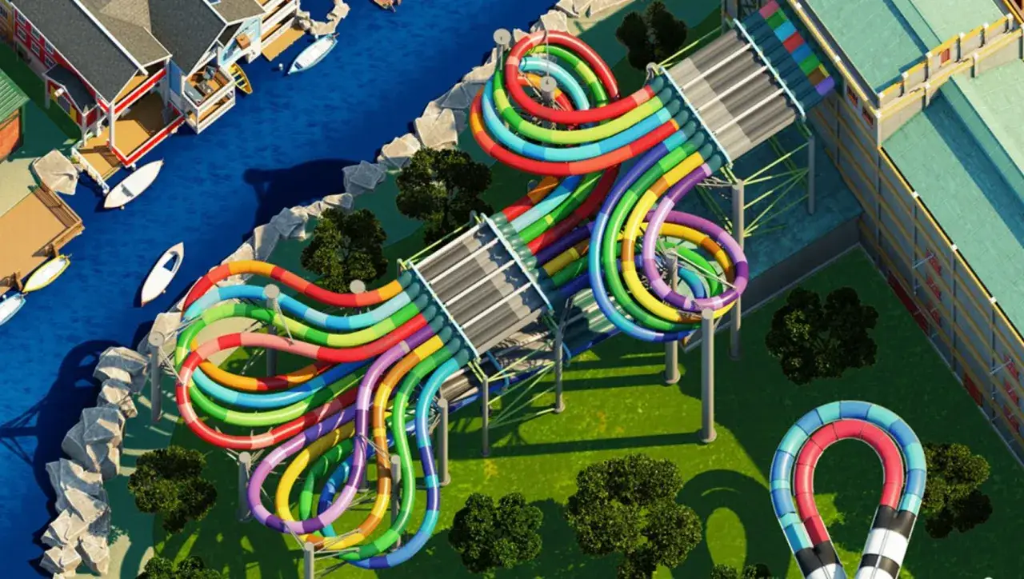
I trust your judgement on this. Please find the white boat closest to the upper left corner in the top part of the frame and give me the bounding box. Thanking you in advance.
[104,157,163,208]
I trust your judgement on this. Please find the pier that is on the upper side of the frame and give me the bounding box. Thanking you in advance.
[262,15,312,67]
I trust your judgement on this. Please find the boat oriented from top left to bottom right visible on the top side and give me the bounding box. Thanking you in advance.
[229,60,255,95]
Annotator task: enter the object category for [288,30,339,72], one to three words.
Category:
boat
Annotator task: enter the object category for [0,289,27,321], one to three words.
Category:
boat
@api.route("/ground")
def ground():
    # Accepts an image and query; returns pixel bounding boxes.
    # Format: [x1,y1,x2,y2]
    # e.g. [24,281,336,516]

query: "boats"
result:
[141,239,184,304]
[22,251,72,290]
[104,157,163,208]
[288,30,339,72]
[0,289,27,321]
[229,60,255,95]
[373,0,398,8]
